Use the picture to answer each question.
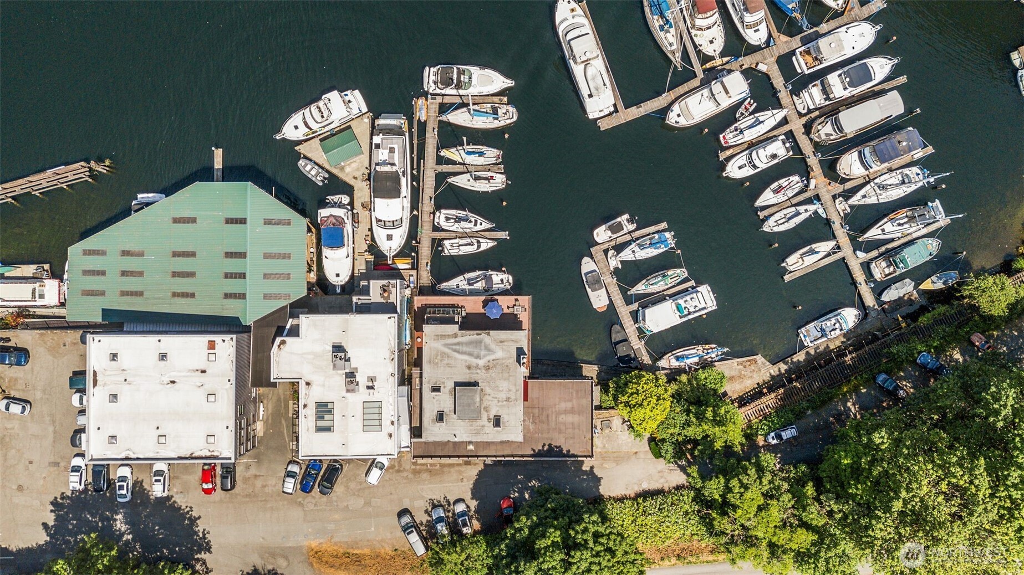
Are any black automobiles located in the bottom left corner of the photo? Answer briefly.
Yes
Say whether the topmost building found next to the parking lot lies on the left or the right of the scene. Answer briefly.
left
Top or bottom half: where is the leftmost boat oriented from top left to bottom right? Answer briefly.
top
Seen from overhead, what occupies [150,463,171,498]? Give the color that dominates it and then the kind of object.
white car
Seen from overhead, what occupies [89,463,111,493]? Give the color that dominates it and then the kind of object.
black car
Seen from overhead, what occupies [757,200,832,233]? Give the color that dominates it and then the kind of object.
white boat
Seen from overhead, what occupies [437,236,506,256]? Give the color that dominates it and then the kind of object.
white boat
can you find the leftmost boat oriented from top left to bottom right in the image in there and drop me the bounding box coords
[297,159,328,187]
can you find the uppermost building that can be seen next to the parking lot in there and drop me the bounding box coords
[66,182,314,326]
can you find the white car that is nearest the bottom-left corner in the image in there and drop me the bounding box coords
[67,455,89,492]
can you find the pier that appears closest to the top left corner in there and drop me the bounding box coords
[0,160,109,204]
